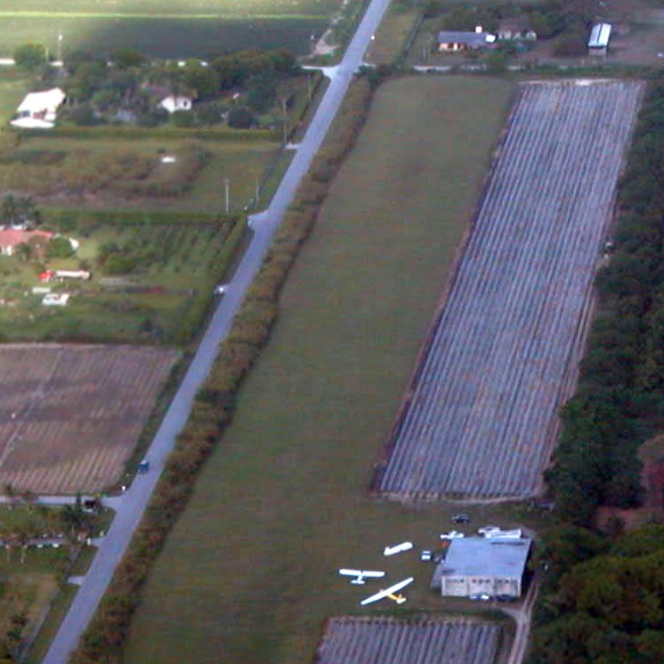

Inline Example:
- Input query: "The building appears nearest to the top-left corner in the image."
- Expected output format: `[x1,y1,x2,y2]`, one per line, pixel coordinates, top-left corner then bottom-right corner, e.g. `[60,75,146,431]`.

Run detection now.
[11,92,69,126]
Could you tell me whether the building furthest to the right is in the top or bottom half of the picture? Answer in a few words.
top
